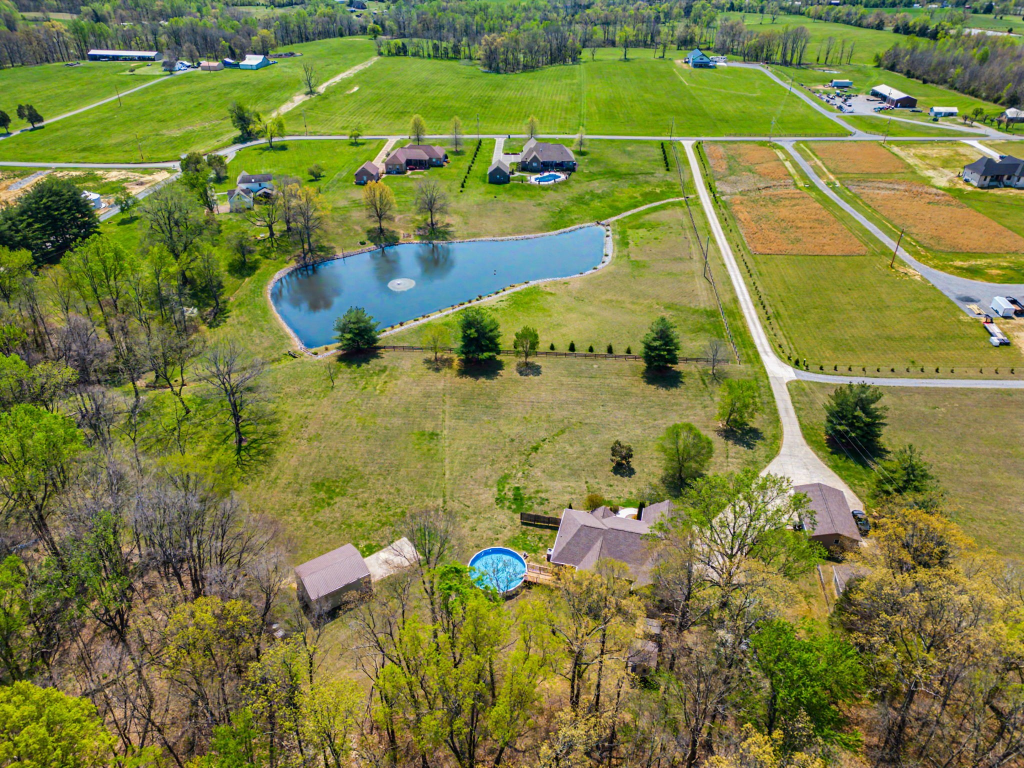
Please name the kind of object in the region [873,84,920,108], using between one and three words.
barn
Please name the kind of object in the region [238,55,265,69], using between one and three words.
building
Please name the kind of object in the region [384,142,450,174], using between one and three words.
house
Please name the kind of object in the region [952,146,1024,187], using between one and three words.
house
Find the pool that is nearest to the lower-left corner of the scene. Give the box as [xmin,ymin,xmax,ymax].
[468,549,528,601]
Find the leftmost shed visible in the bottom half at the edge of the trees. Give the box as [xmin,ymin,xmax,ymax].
[296,544,372,615]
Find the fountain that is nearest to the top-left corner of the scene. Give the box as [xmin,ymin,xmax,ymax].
[387,278,416,291]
